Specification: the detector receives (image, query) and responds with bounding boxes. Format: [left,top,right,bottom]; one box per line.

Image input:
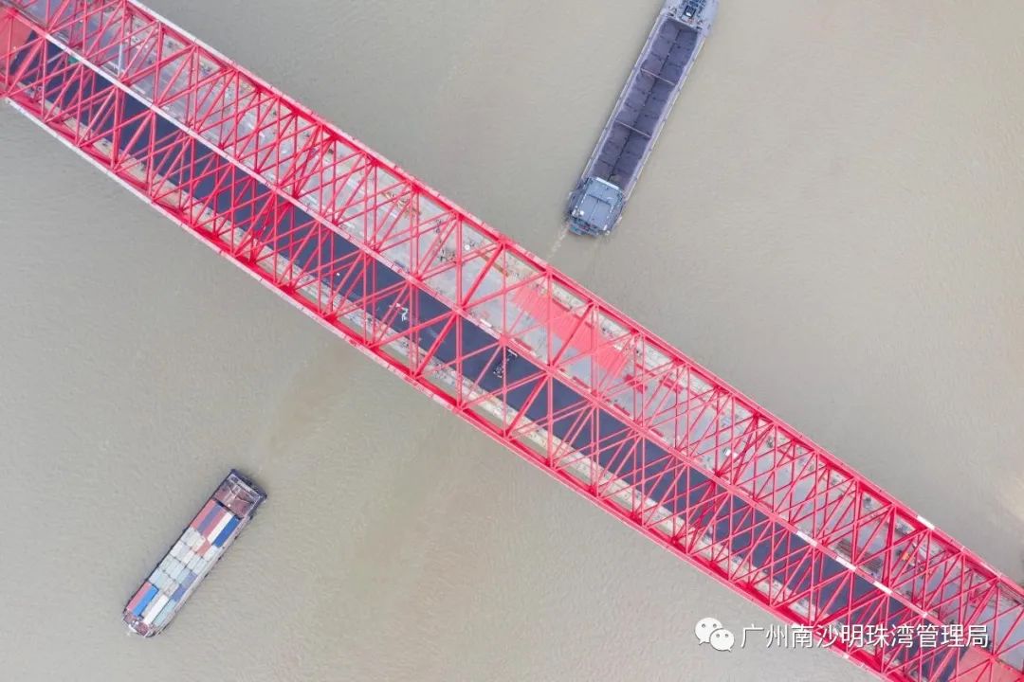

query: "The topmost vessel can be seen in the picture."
[563,0,720,243]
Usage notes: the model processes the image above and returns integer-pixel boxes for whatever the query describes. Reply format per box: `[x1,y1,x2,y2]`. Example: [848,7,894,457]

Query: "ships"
[126,465,271,639]
[563,0,720,243]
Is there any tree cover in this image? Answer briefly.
No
